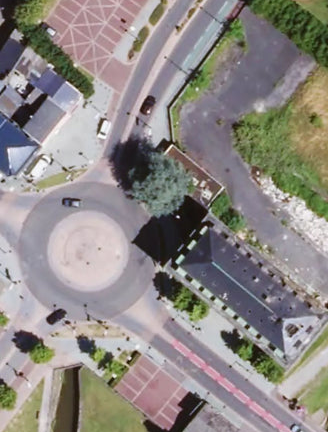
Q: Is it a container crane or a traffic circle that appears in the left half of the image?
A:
traffic circle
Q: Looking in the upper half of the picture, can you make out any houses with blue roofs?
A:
Yes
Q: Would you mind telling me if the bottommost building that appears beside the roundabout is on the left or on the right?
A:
right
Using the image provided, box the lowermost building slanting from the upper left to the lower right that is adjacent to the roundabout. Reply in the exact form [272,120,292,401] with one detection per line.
[166,210,328,372]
